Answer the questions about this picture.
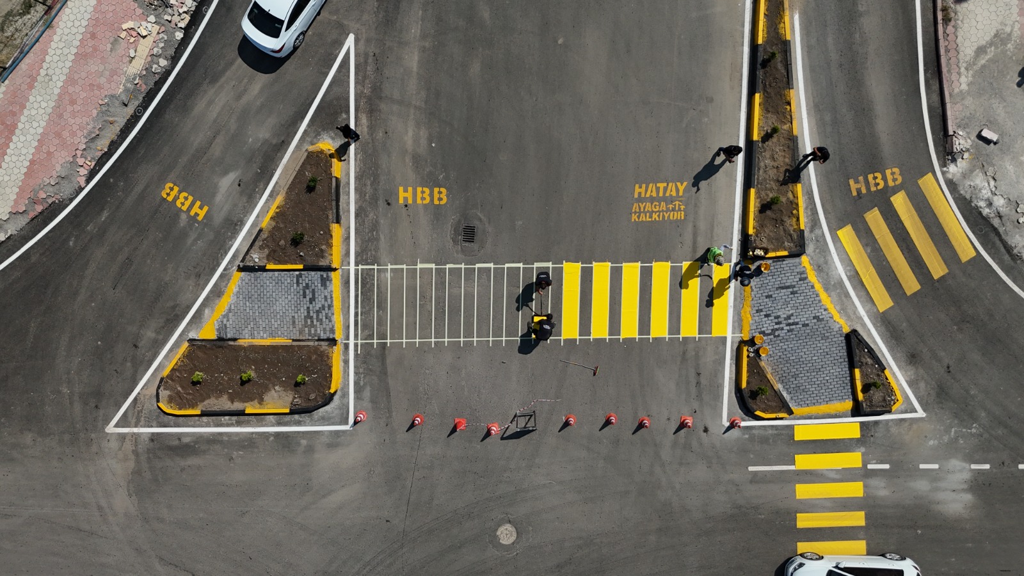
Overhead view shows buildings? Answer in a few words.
No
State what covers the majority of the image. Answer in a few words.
paved ground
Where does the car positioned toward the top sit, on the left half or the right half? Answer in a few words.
left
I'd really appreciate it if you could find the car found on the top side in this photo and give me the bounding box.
[240,0,329,58]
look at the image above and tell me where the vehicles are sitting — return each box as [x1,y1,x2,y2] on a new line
[783,552,922,576]
[240,0,329,58]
